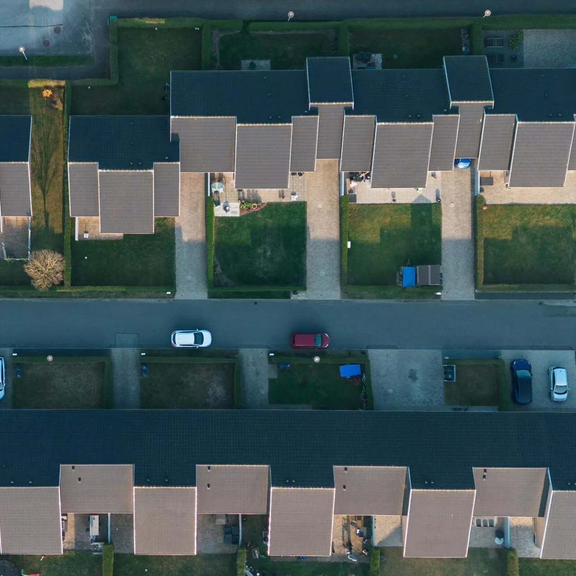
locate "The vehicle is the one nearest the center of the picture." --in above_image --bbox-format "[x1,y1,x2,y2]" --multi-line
[291,331,329,350]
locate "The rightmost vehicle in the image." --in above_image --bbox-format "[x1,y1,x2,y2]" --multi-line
[550,367,572,401]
